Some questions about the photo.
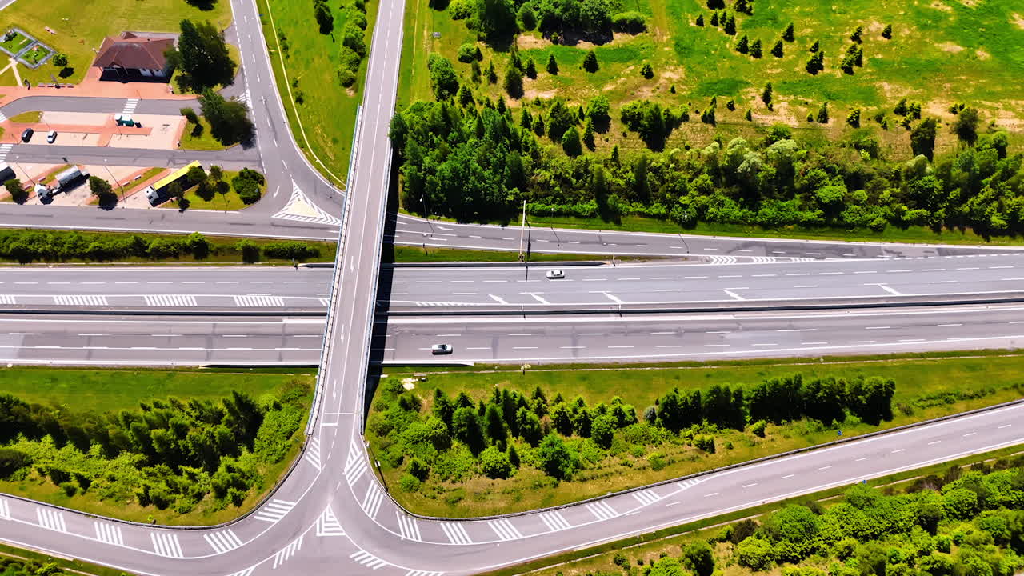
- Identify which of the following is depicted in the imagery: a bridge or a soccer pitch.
bridge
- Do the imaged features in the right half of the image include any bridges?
No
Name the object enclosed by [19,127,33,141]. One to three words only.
car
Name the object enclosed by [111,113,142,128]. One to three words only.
vehicle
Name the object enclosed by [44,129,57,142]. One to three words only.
vehicle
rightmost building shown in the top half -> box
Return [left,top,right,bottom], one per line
[93,29,175,76]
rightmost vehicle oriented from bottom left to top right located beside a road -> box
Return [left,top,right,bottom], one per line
[143,165,204,207]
